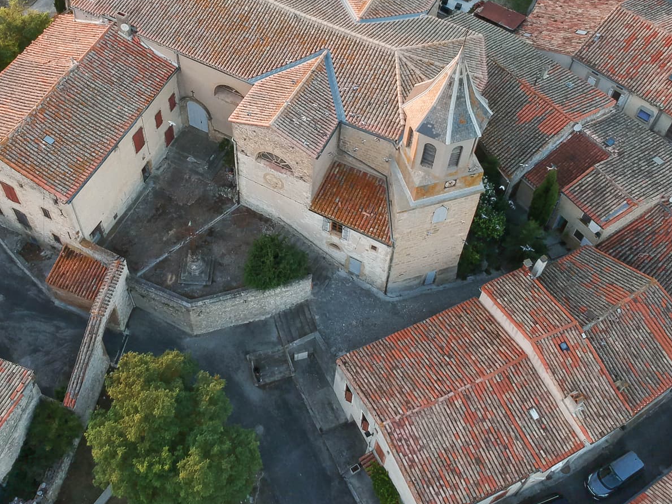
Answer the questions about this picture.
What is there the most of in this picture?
buildings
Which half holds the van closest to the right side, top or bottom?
bottom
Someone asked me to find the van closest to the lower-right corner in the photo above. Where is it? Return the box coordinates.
[586,444,655,499]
